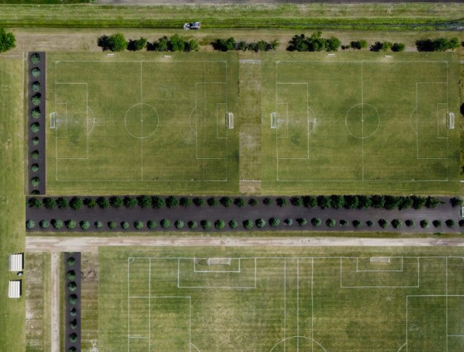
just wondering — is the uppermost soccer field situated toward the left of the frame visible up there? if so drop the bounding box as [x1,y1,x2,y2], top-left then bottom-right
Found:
[47,52,238,195]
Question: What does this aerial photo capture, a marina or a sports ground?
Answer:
sports ground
